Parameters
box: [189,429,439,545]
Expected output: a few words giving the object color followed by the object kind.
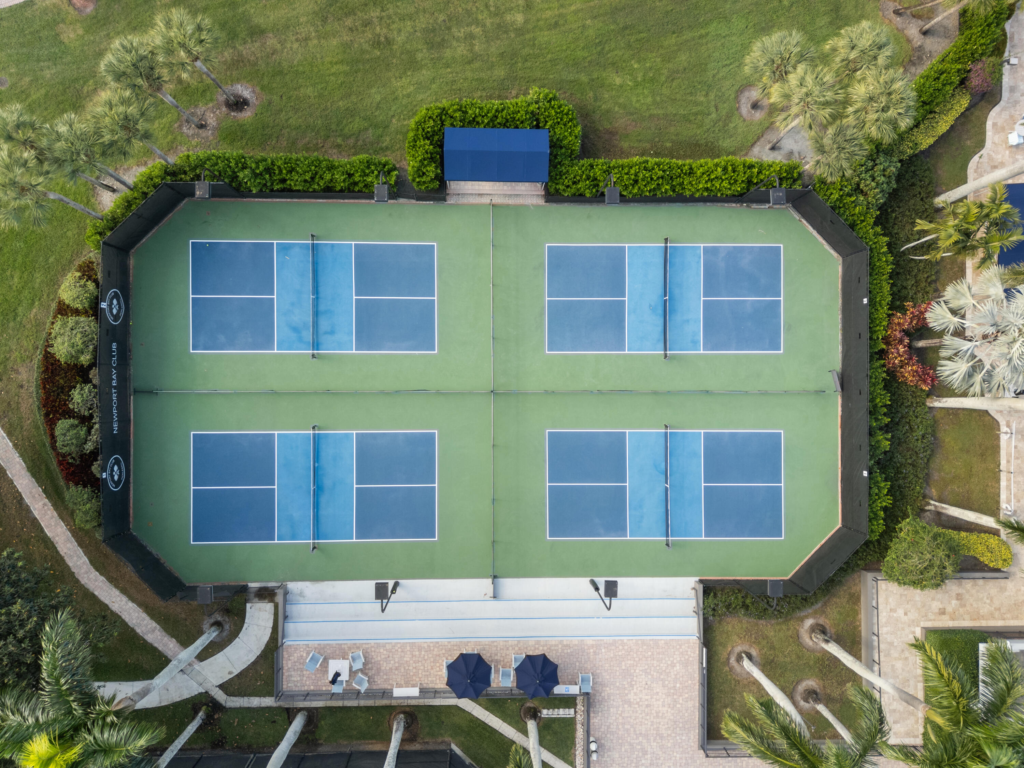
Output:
blue sports court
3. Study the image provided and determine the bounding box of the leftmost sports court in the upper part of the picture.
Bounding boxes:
[188,238,439,355]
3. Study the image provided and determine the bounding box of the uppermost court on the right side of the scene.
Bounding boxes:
[544,242,785,355]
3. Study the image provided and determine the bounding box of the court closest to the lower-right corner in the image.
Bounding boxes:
[545,428,786,541]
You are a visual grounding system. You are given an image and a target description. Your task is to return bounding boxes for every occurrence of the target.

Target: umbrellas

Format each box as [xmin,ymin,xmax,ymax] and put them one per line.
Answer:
[447,654,491,698]
[514,653,560,699]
